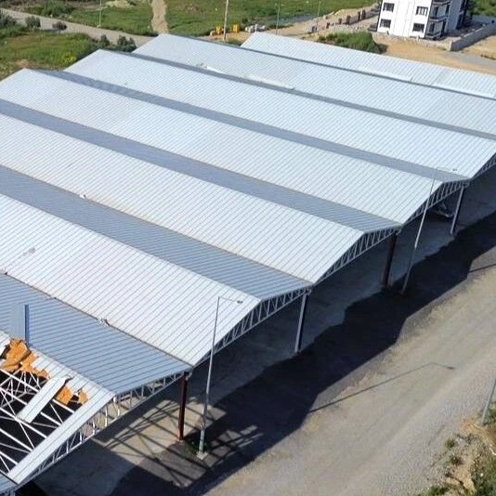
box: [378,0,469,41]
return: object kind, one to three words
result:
building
